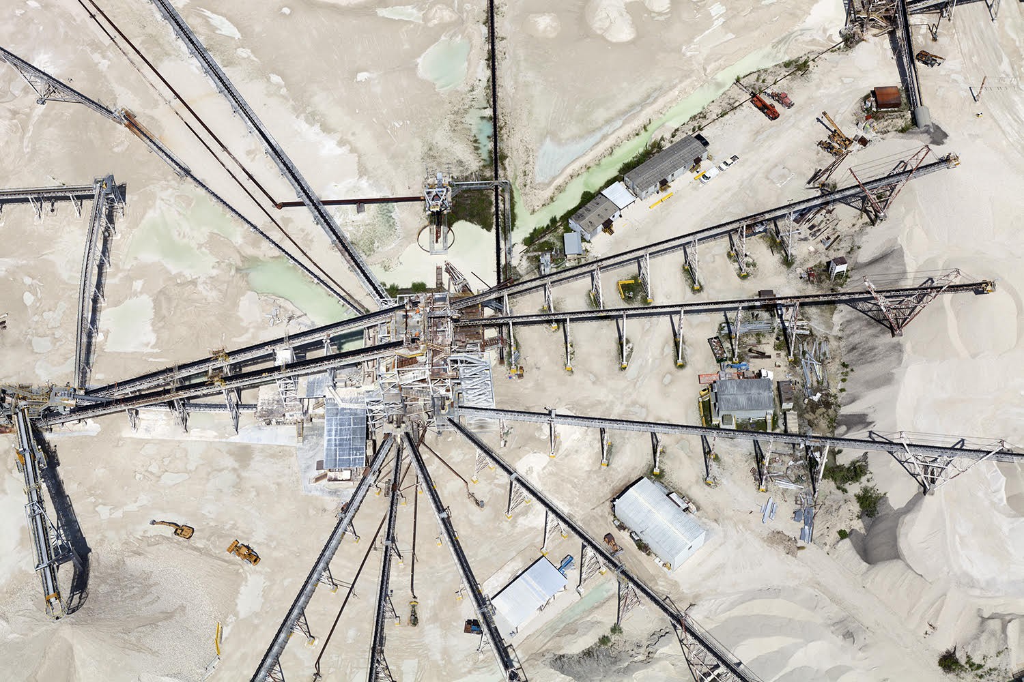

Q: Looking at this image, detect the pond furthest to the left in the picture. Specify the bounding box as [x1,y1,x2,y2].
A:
[243,254,366,359]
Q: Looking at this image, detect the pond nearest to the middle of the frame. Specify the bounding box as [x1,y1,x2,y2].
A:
[377,219,499,294]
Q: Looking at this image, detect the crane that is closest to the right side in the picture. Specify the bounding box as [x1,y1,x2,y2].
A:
[821,109,858,149]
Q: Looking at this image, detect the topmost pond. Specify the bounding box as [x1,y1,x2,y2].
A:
[415,38,475,99]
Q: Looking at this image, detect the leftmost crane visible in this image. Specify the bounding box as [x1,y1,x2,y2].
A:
[736,75,783,117]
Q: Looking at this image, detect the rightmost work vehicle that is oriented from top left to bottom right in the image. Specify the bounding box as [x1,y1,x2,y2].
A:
[818,135,845,158]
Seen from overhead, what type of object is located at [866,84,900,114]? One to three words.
shed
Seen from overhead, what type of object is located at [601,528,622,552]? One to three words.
work vehicle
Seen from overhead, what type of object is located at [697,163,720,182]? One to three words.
car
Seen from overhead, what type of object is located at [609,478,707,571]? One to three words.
building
